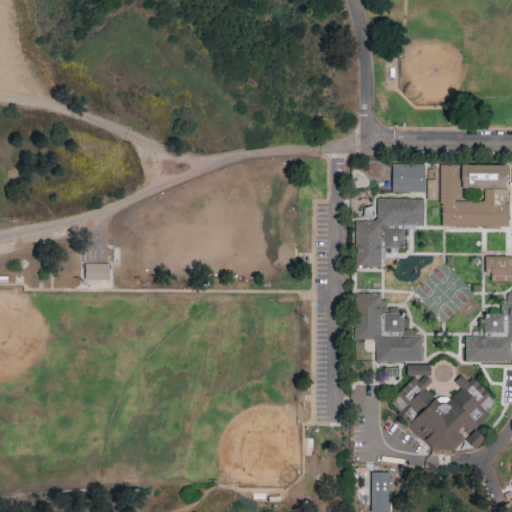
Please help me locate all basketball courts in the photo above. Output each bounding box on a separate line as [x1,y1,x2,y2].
[430,264,472,307]
[415,278,458,322]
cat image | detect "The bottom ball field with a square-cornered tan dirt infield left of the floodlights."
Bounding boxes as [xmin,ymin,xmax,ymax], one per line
[170,292,302,487]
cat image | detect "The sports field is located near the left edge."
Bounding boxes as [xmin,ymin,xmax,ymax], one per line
[0,290,170,487]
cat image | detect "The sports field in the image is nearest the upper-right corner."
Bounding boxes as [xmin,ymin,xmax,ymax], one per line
[401,0,512,105]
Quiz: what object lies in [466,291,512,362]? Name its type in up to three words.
building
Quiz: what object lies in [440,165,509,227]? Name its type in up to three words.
building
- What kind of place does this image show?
sports ground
